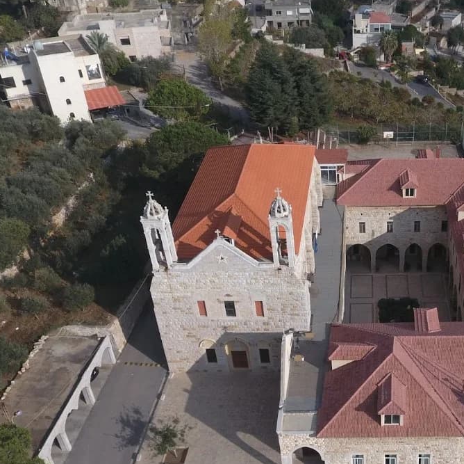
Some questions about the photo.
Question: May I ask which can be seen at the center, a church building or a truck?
church building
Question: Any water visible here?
No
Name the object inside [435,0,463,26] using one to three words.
house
